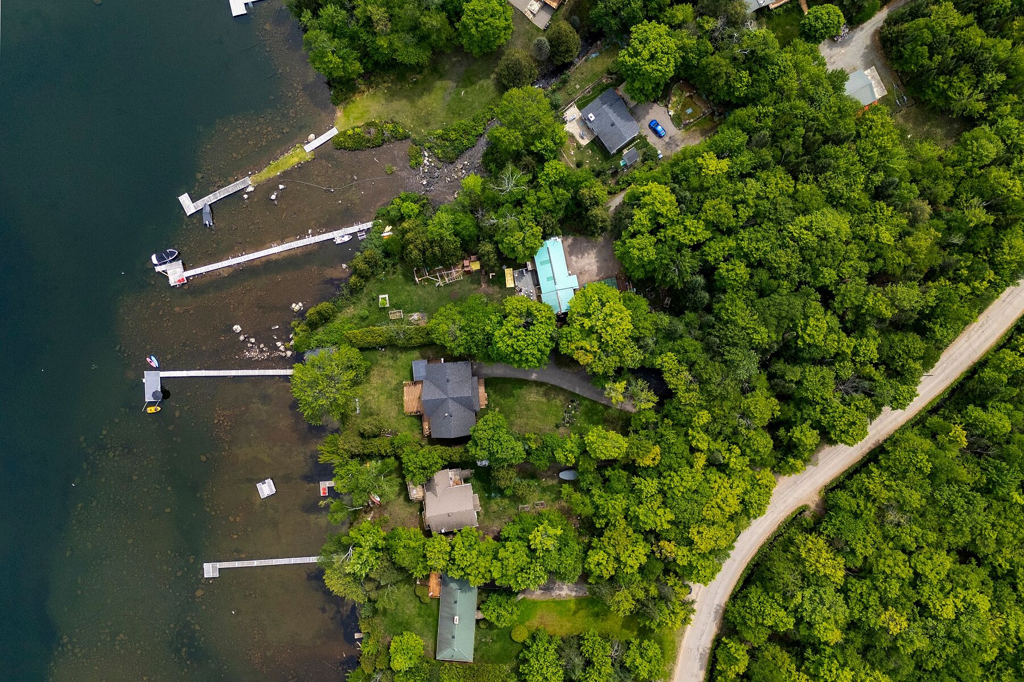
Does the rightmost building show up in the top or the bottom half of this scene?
top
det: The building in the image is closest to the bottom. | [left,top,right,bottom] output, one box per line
[417,570,483,662]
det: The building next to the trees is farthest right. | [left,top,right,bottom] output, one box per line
[835,66,887,110]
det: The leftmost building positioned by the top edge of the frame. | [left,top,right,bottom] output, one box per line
[506,0,562,32]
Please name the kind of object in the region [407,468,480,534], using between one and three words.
house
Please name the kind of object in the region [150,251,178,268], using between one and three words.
boat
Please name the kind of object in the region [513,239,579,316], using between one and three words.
house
